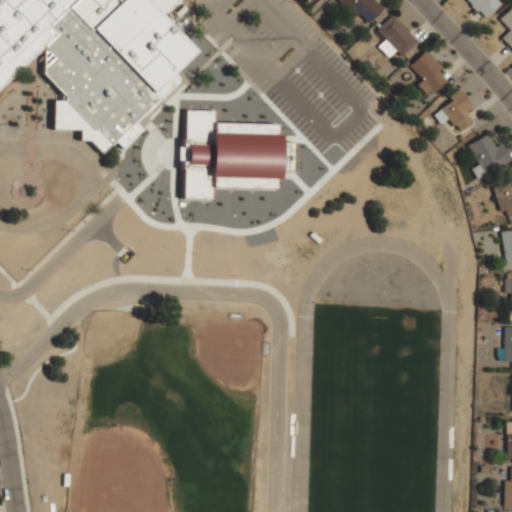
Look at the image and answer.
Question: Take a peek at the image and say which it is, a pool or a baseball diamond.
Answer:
baseball diamond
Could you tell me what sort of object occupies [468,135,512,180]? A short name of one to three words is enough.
house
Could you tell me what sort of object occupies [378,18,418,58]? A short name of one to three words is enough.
house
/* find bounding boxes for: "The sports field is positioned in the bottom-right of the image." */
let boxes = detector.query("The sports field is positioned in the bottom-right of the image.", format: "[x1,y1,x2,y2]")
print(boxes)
[308,302,442,512]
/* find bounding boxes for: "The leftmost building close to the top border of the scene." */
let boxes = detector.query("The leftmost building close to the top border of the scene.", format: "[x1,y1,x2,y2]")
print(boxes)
[0,0,202,154]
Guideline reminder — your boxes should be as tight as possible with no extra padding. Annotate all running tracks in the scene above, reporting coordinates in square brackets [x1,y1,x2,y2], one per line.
[292,236,457,512]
